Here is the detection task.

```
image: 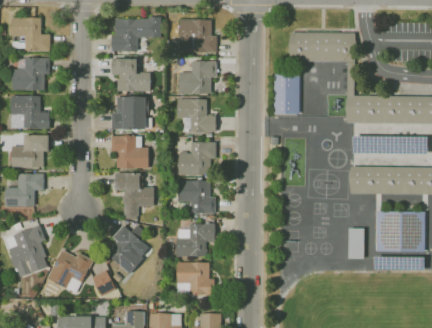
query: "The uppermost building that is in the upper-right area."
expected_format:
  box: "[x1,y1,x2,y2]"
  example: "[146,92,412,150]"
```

[290,32,356,62]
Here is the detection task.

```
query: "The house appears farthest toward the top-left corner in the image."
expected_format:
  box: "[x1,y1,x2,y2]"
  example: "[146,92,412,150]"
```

[9,18,49,52]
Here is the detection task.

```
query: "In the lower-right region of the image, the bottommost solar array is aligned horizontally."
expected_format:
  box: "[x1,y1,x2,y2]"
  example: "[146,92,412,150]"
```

[374,258,425,270]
